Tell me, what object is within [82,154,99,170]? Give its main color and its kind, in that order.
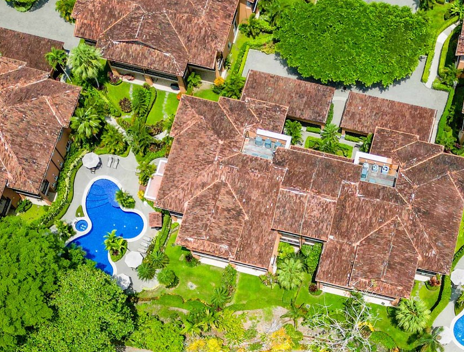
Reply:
white umbrella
